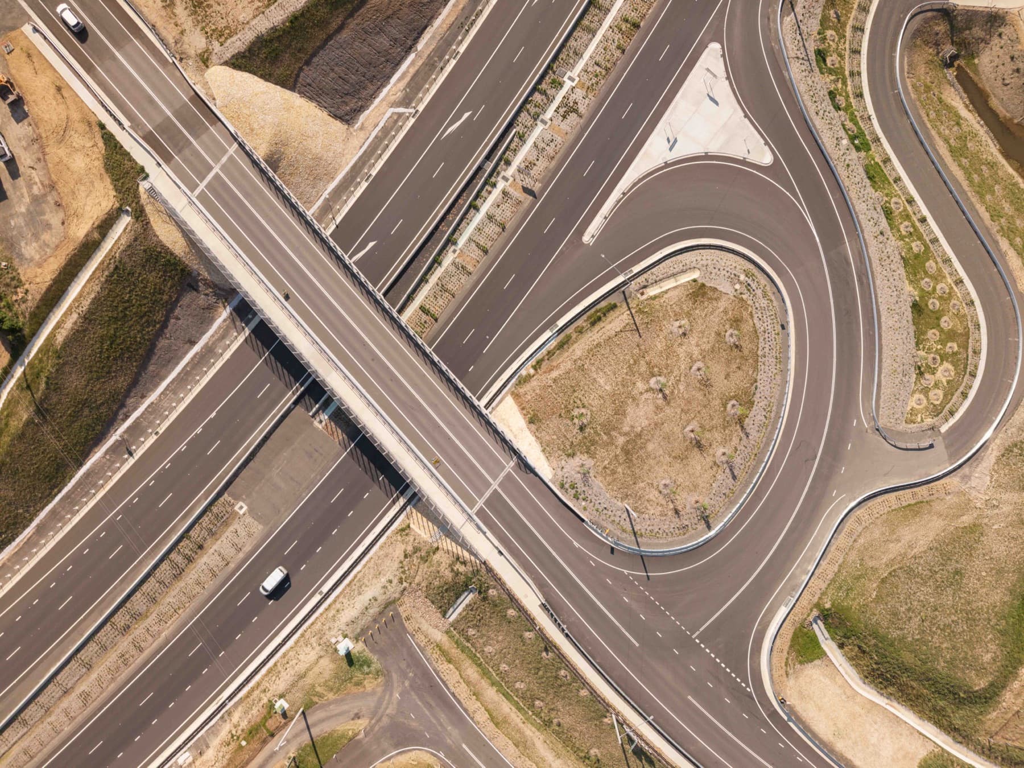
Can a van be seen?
Yes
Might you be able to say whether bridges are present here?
Yes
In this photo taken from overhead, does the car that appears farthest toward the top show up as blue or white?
white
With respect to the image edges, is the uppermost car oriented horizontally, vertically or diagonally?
diagonally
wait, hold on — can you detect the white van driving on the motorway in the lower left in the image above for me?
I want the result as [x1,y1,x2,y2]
[259,565,289,595]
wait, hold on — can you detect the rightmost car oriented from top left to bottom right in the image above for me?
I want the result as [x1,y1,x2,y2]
[56,3,85,33]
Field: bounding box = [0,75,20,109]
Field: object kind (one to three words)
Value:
vehicle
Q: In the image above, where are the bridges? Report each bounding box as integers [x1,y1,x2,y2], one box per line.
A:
[120,58,586,604]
